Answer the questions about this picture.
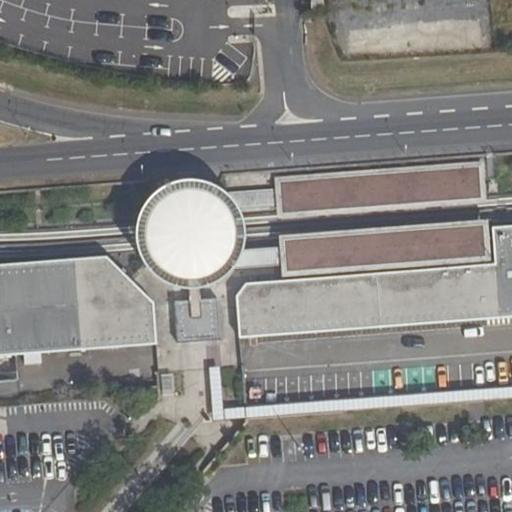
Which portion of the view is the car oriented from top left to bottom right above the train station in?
top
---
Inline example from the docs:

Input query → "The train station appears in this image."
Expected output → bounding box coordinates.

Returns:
[135,178,246,290]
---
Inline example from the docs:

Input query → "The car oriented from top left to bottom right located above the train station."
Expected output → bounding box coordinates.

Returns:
[216,53,238,73]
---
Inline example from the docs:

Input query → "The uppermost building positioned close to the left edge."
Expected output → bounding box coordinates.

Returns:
[0,256,156,366]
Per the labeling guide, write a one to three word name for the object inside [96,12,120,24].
vehicle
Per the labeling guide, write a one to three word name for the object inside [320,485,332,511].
vehicle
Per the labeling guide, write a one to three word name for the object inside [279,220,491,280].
building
